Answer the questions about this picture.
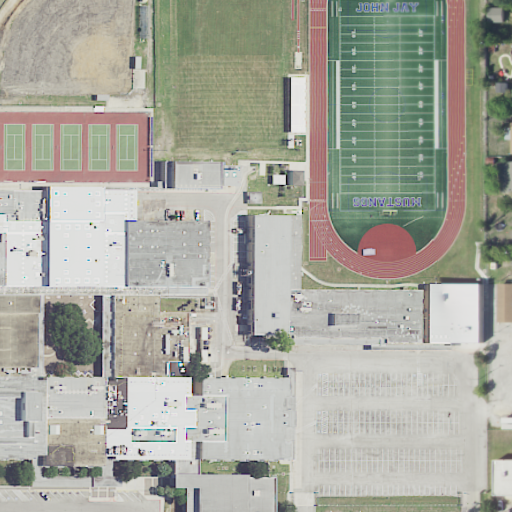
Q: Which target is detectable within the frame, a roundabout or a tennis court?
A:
tennis court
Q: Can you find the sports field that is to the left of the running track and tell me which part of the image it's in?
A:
top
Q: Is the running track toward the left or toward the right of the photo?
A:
right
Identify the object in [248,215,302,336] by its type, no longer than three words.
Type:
building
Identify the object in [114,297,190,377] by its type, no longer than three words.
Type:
building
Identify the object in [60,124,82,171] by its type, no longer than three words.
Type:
tennis court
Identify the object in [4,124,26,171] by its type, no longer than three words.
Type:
tennis court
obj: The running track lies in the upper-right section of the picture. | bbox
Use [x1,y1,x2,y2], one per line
[309,0,466,278]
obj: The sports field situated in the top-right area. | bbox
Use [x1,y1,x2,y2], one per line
[328,0,447,259]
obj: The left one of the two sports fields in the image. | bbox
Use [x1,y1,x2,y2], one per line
[154,0,288,160]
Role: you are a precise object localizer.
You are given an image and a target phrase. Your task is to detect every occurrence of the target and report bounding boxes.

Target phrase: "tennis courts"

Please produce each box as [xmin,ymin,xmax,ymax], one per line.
[60,124,82,171]
[116,124,138,171]
[4,124,26,171]
[32,124,54,171]
[88,124,110,171]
